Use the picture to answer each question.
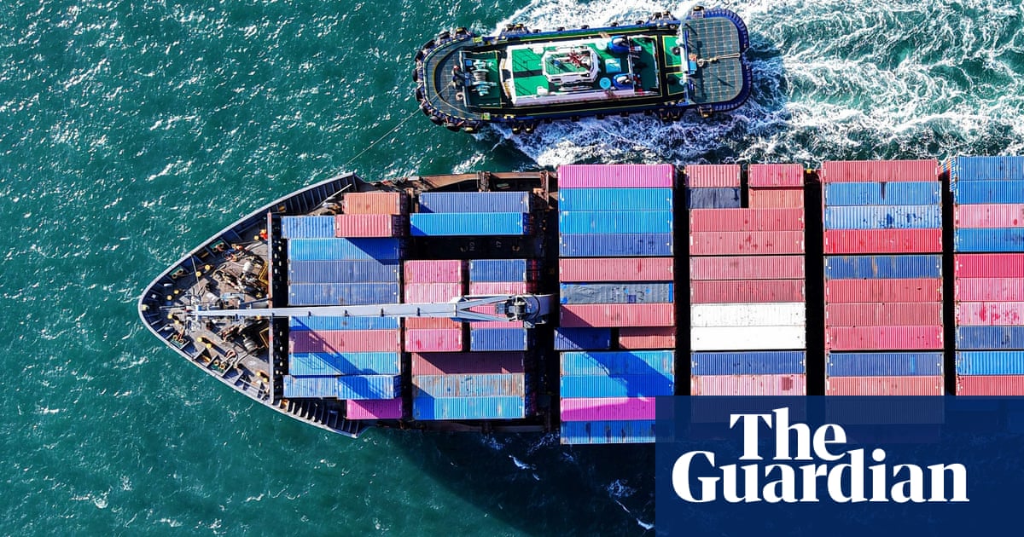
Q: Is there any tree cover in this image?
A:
No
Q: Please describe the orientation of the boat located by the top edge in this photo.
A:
from side to side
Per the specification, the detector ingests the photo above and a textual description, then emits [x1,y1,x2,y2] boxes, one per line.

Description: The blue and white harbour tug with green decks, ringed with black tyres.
[416,6,750,131]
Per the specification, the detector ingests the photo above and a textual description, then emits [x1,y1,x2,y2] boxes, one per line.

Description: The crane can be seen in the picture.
[173,291,562,334]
